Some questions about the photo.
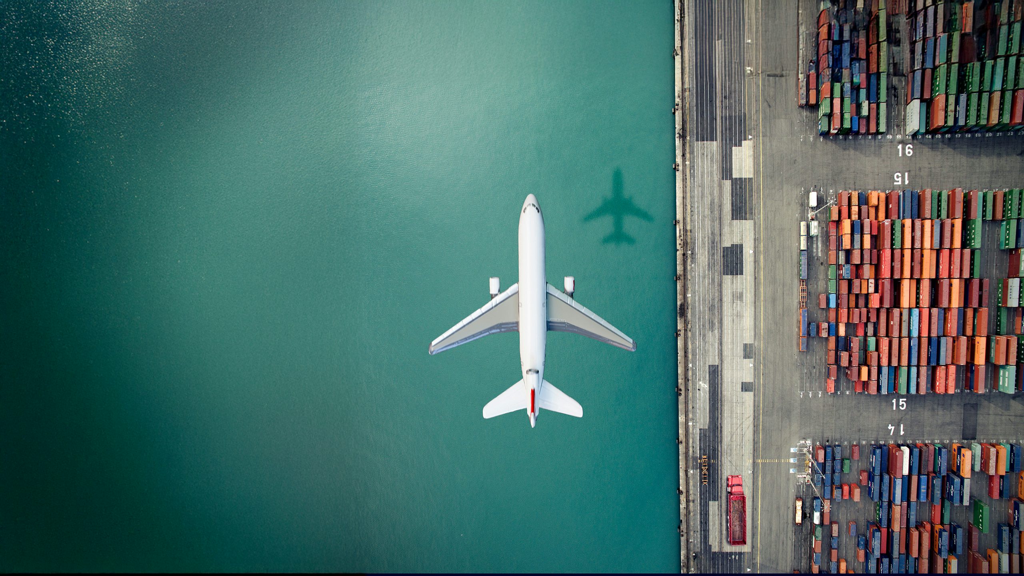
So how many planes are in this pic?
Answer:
1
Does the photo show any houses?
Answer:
No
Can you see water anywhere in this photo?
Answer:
Yes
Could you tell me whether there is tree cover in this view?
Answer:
No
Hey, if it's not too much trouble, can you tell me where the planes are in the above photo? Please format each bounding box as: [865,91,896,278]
[426,191,633,431]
